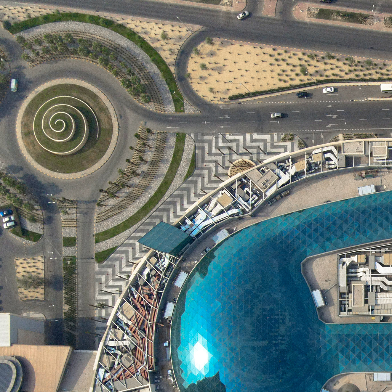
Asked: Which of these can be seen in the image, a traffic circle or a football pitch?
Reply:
traffic circle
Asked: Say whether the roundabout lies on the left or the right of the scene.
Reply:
left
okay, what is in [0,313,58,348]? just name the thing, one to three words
building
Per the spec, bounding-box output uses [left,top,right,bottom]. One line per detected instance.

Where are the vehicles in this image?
[296,92,309,98]
[0,210,13,217]
[381,83,392,93]
[11,78,19,93]
[3,217,16,222]
[3,222,17,229]
[238,11,250,21]
[322,87,335,93]
[270,112,283,119]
